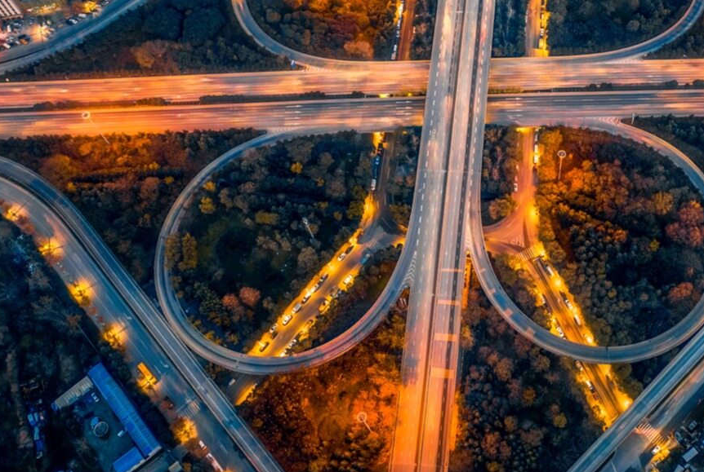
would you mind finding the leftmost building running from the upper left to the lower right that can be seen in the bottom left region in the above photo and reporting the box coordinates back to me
[88,365,163,458]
